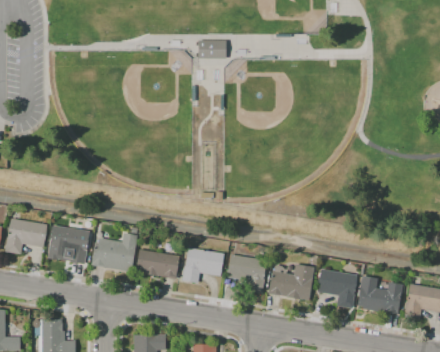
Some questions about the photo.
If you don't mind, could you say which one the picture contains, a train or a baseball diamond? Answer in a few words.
baseball diamond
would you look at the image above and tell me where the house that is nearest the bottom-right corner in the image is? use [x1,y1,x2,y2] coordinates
[406,284,440,316]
